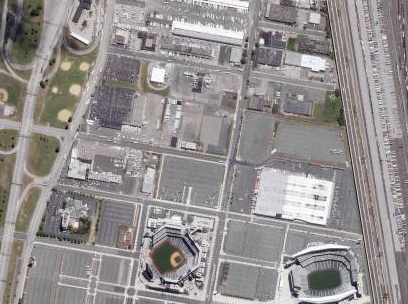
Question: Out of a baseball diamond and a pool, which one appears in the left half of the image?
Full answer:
The feature located in the left half of the image is a baseball diamond.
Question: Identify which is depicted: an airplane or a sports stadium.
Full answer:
This aerial view contains a sports stadium.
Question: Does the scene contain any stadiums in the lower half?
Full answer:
Yes, there is a stadium in the lower half.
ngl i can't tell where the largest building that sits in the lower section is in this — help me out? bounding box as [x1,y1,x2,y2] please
[253,168,335,225]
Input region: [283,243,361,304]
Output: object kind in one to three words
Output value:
stadium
